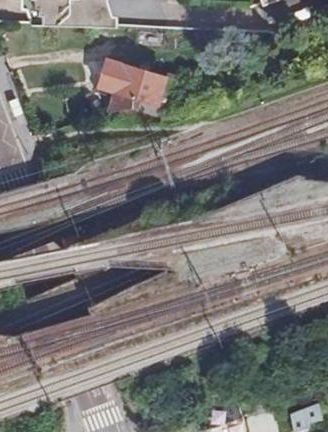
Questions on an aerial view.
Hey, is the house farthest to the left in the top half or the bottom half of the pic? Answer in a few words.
top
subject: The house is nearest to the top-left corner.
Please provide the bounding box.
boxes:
[96,58,168,115]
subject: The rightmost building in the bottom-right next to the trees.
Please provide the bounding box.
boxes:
[290,404,322,431]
